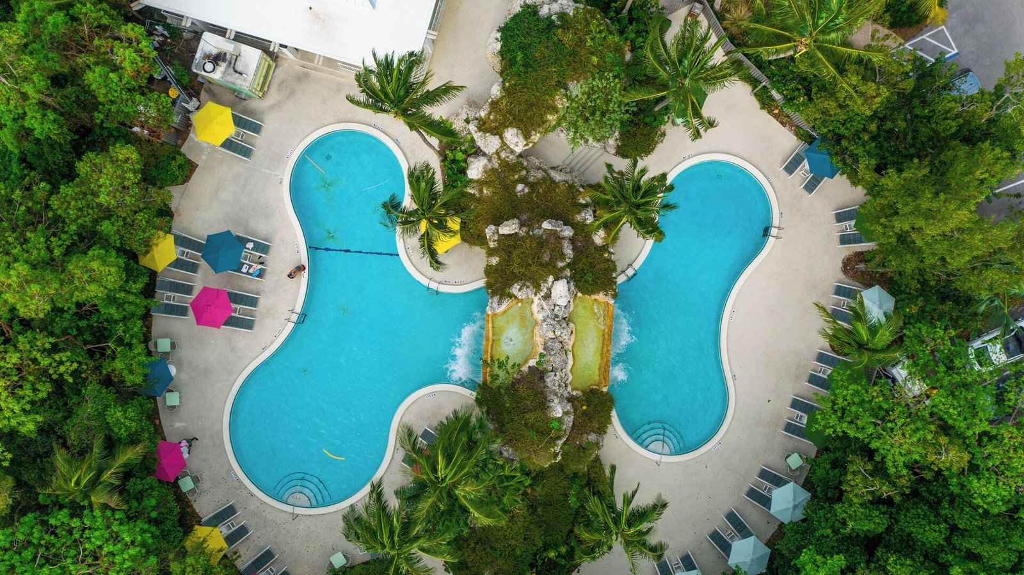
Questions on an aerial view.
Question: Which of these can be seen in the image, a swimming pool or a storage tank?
swimming pool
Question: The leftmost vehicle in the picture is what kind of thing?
truck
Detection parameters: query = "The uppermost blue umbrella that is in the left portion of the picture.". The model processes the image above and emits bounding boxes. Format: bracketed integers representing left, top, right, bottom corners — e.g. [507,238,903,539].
[200,231,245,272]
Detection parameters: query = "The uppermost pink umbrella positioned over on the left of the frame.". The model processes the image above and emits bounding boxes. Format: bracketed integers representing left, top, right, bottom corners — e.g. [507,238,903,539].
[190,286,234,328]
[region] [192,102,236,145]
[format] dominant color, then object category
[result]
yellow umbrella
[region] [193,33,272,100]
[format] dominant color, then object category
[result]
white truck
